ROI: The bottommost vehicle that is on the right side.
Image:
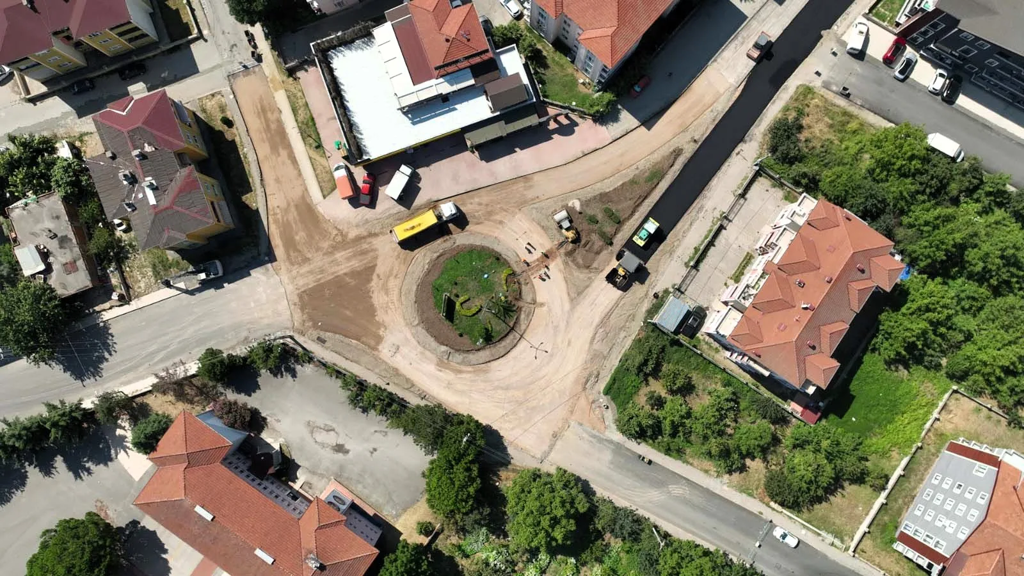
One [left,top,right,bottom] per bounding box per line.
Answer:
[770,525,800,547]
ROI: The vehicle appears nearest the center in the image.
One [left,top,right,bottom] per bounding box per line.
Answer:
[552,208,577,252]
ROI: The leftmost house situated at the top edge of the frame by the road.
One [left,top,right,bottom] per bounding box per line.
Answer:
[0,0,158,96]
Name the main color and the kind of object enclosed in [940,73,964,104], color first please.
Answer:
black car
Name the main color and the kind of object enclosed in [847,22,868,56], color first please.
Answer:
white vehicle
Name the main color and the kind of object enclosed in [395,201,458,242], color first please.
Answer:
yellow truck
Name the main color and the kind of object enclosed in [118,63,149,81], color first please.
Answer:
black car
